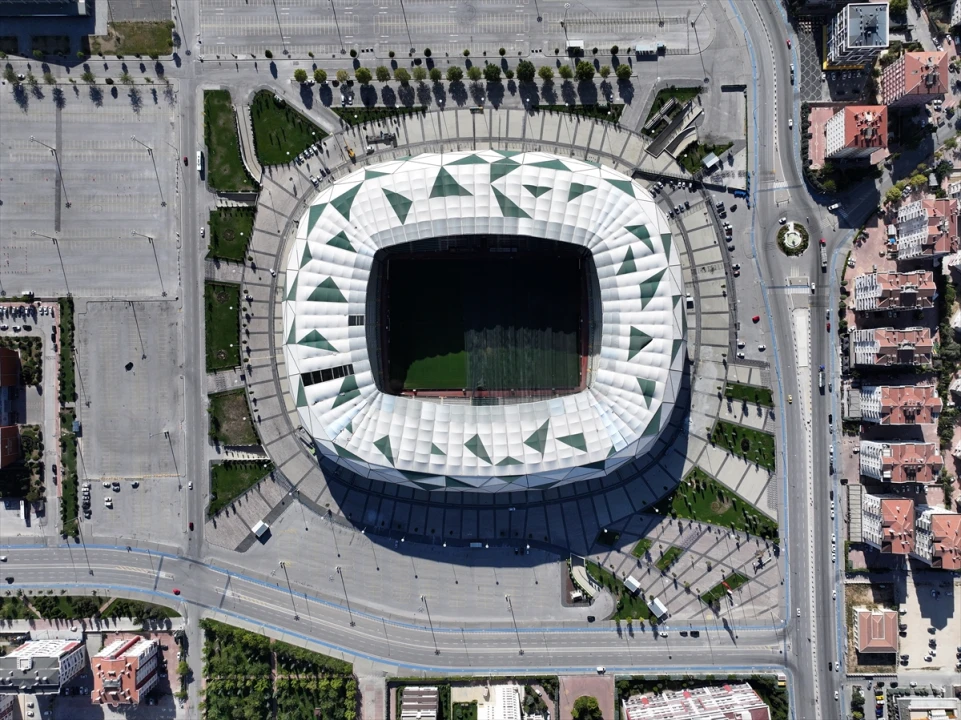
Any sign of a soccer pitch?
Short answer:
Yes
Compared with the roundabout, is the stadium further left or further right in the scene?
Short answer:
to the left of it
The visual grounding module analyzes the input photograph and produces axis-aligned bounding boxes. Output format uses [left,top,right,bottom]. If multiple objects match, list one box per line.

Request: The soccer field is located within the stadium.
[379,252,589,398]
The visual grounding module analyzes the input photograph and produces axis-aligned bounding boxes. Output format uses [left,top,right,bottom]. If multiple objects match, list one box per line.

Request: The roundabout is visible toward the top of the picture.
[777,222,810,254]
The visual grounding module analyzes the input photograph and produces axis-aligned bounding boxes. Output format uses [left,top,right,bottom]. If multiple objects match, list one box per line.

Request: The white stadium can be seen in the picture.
[282,149,687,491]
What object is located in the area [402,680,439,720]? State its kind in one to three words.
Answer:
building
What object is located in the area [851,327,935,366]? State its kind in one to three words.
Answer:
building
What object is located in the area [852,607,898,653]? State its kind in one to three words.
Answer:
house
